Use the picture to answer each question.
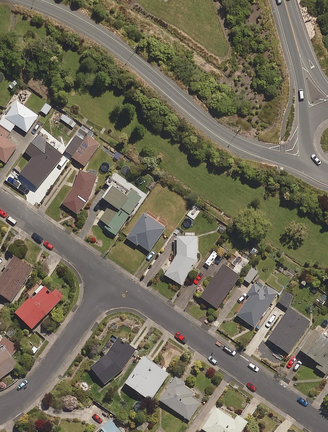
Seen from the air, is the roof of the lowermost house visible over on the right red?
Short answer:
No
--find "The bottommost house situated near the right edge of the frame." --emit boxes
[300,329,328,376]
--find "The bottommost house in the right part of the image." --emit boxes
[202,408,246,432]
